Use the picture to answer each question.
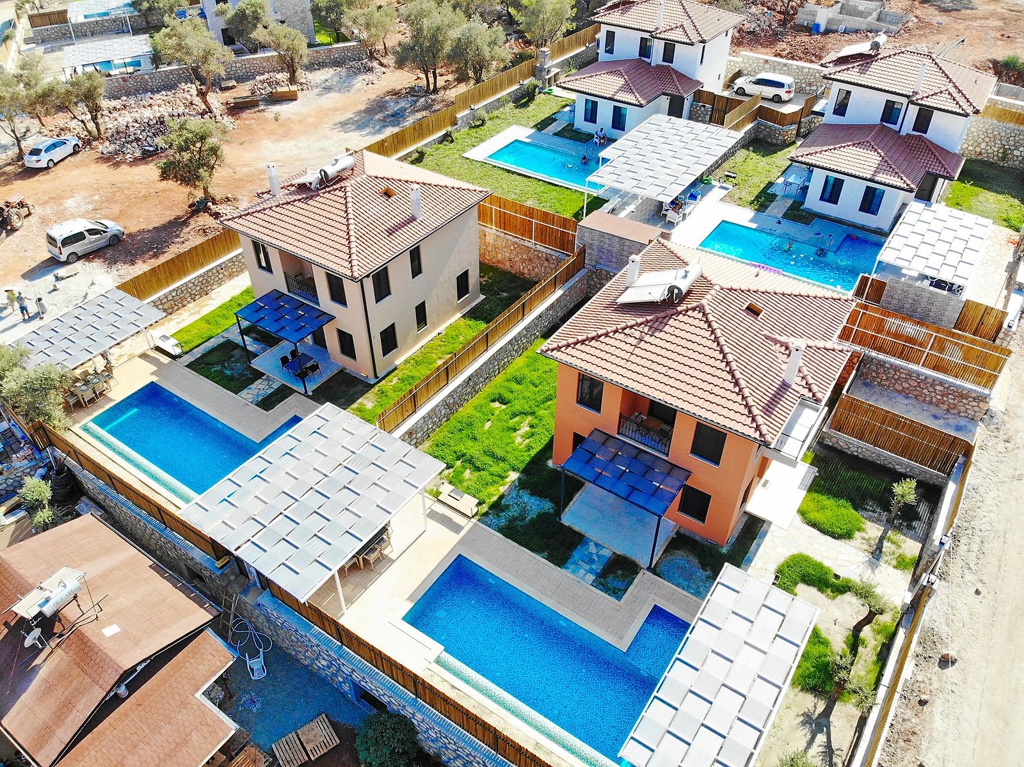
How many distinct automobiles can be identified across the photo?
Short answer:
three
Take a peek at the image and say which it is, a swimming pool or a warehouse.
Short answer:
swimming pool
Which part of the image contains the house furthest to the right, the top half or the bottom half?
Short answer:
top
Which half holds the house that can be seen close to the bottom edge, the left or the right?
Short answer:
left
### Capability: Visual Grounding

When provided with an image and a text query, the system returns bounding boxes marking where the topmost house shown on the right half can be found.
[553,0,737,139]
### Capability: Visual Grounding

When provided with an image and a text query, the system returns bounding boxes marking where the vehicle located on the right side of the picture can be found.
[730,70,796,103]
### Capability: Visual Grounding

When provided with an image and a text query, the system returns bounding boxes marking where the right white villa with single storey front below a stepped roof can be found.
[781,47,1001,232]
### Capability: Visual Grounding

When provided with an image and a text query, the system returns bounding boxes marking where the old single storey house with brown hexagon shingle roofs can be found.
[0,513,243,767]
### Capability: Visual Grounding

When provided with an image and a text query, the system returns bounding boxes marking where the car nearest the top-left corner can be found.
[16,132,86,168]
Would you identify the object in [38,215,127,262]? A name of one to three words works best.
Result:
car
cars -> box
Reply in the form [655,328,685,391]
[16,132,86,168]
[730,70,796,103]
[38,215,127,262]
